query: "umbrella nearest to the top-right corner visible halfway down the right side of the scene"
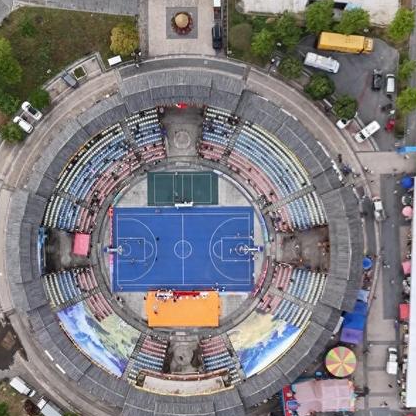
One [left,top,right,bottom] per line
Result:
[400,176,414,189]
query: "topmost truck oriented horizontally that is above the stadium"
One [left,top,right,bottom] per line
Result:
[316,31,373,56]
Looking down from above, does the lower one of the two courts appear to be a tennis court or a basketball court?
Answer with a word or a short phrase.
basketball court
